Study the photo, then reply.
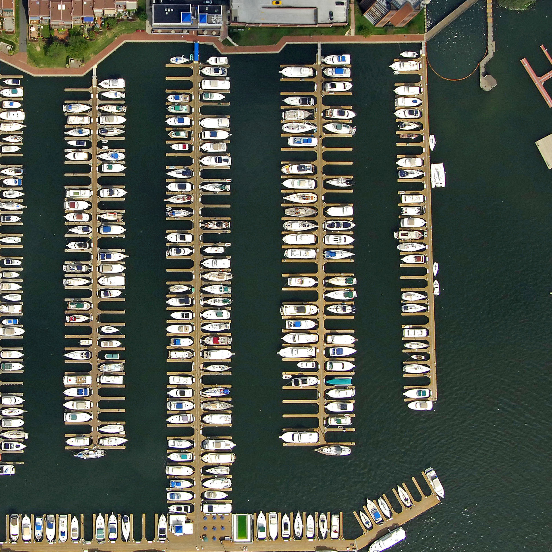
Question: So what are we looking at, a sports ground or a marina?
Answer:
marina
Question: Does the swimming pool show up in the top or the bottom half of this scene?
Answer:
bottom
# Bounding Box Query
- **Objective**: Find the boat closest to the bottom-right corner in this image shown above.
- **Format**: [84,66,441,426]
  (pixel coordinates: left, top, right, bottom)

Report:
[425,469,445,500]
